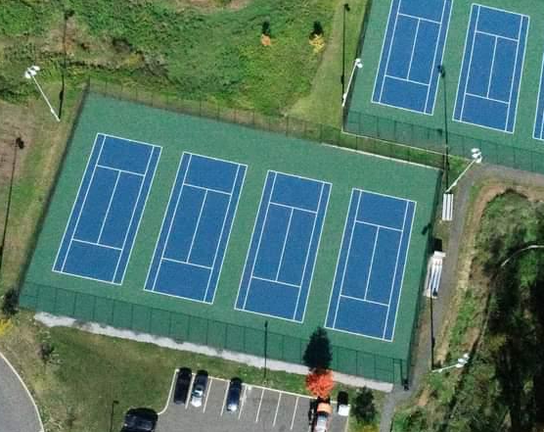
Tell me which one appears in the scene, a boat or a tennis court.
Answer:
tennis court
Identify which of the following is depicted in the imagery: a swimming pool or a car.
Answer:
car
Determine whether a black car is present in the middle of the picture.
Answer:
No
